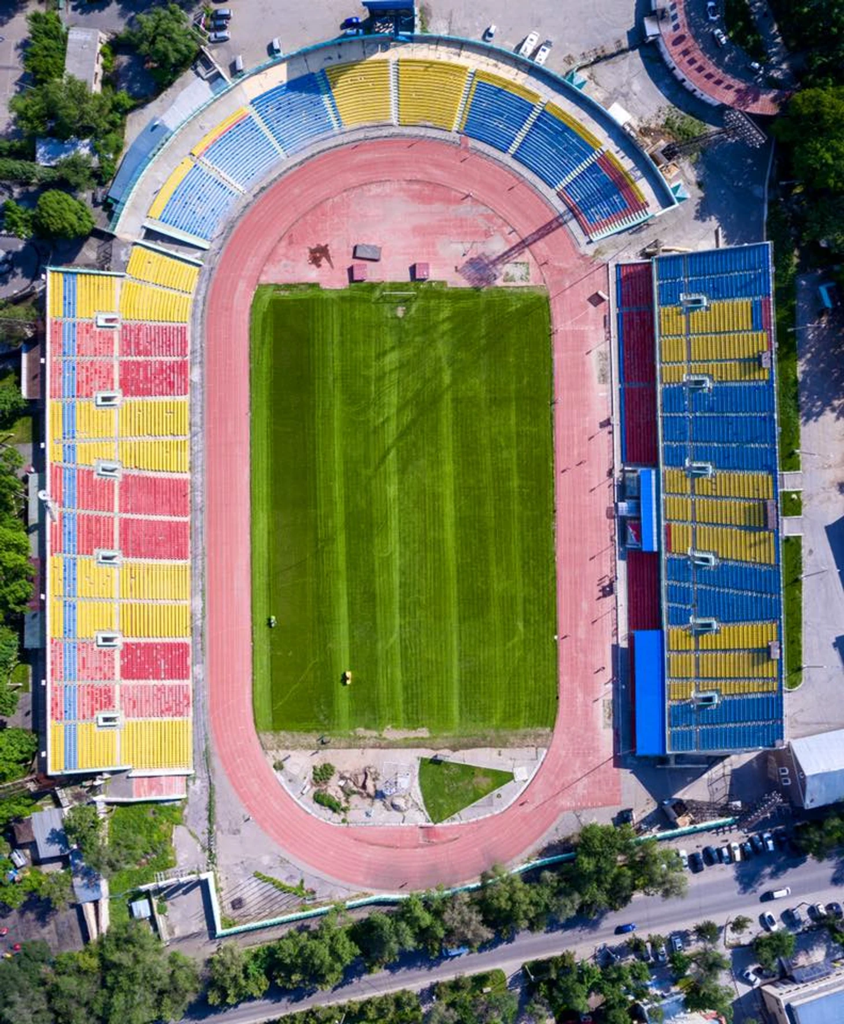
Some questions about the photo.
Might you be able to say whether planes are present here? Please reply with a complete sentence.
No, the picture doesn't show any plane.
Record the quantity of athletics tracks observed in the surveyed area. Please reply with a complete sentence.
The photo contains exactly 1 athletics track.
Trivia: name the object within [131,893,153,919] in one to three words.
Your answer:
shed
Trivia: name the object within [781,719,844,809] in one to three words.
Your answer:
building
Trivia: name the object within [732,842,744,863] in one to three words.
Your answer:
vehicle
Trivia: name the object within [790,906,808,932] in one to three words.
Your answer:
vehicle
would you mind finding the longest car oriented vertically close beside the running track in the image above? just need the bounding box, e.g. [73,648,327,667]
[620,807,632,829]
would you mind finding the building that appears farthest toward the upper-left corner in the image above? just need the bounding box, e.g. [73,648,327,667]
[64,27,109,96]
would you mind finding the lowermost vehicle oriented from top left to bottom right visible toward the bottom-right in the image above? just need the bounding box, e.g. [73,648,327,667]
[743,968,765,991]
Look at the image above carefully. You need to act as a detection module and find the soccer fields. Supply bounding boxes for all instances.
[251,282,558,751]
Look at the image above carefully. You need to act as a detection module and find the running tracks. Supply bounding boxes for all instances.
[206,138,621,890]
